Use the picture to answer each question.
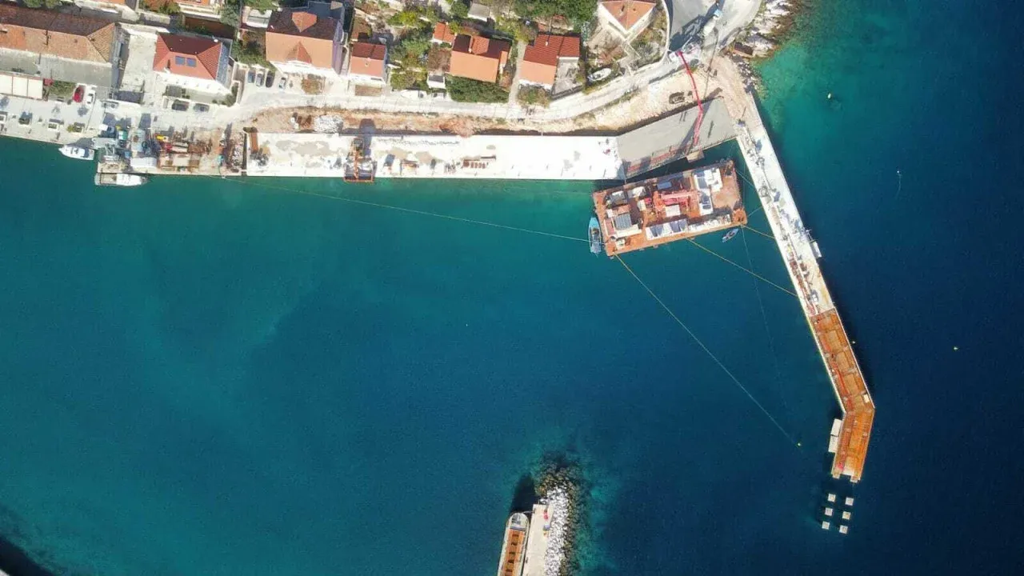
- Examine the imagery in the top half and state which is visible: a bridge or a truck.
truck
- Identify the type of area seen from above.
port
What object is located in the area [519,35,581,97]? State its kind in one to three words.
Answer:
house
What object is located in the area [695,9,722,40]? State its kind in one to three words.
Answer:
truck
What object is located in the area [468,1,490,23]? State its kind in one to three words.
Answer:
building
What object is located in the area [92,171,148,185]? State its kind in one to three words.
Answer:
boat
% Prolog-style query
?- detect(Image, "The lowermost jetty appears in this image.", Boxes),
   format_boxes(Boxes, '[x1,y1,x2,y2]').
[522,503,554,576]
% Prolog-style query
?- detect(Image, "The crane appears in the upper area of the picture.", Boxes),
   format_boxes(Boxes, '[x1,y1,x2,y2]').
[651,188,699,216]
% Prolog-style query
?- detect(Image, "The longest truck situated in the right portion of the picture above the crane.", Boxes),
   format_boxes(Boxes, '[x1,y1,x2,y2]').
[669,45,710,147]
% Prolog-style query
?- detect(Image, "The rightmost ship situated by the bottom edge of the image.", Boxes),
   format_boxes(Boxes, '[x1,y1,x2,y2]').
[495,511,527,576]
